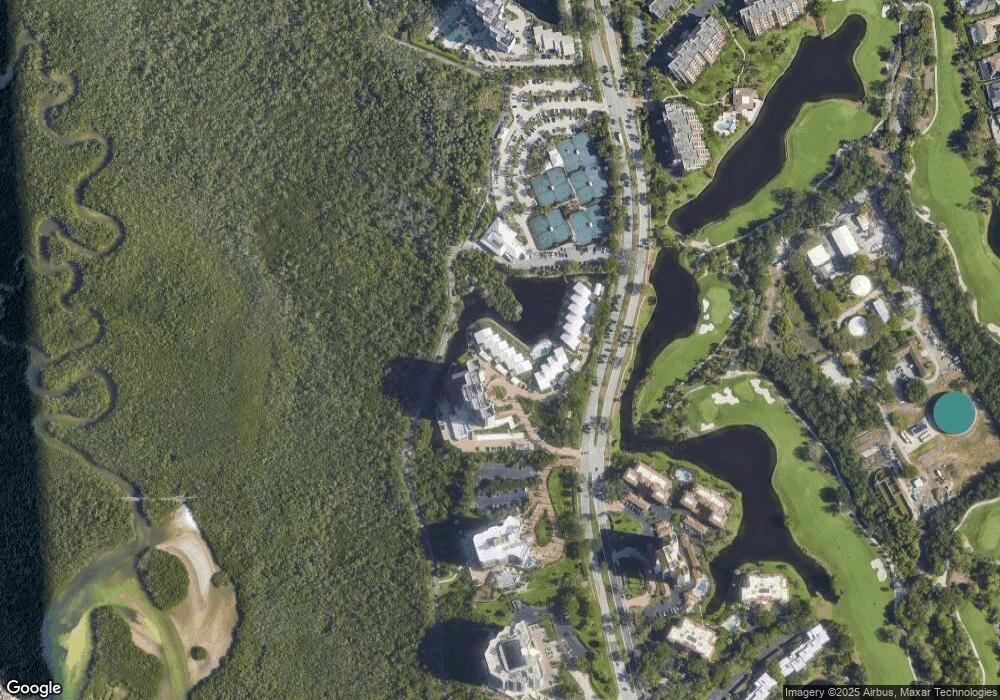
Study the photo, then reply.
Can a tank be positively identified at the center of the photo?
No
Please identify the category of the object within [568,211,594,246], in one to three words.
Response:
tennis court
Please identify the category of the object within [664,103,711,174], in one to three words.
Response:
building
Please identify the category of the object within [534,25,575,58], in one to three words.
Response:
building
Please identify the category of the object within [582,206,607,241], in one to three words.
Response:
tennis court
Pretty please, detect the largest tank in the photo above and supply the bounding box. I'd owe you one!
[934,391,976,434]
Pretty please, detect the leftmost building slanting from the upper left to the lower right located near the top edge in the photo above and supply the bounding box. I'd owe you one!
[475,0,516,53]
